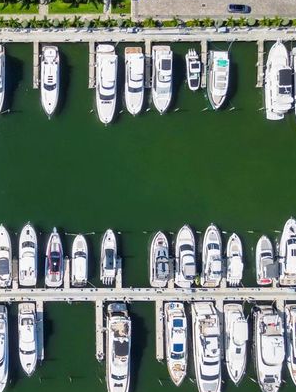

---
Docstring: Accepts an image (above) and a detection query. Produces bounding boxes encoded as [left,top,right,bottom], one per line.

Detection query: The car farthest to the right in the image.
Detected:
[226,3,250,15]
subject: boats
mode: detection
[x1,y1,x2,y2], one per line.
[171,224,197,289]
[124,42,147,117]
[224,232,248,290]
[280,304,296,386]
[287,41,296,125]
[183,43,205,90]
[93,40,120,126]
[104,303,132,392]
[69,233,93,288]
[246,303,292,392]
[16,221,40,290]
[190,303,223,392]
[148,230,174,289]
[41,228,66,289]
[160,303,189,388]
[0,304,10,392]
[200,223,223,289]
[260,39,295,121]
[221,303,251,387]
[38,41,62,121]
[150,40,176,115]
[0,223,13,288]
[0,42,8,111]
[275,217,296,285]
[254,234,277,288]
[12,304,39,380]
[205,42,233,112]
[96,228,120,289]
